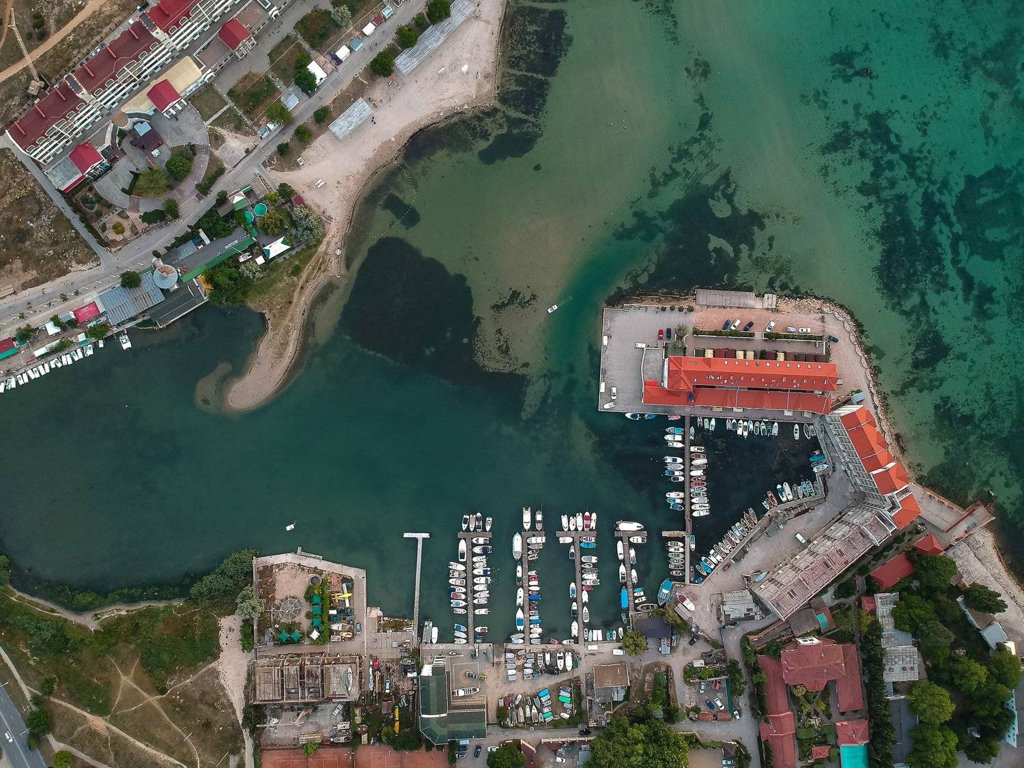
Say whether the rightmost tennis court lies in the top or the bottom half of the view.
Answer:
bottom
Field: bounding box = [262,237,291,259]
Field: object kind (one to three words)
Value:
tent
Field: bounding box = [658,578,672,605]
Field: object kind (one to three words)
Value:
ship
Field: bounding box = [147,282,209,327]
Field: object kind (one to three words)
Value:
building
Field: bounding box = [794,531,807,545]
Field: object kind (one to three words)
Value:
vehicle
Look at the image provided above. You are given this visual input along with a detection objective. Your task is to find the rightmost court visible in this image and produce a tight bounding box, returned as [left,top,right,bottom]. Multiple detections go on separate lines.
[355,746,447,768]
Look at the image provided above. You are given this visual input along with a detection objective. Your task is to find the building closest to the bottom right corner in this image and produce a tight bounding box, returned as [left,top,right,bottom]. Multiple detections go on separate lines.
[997,682,1020,747]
